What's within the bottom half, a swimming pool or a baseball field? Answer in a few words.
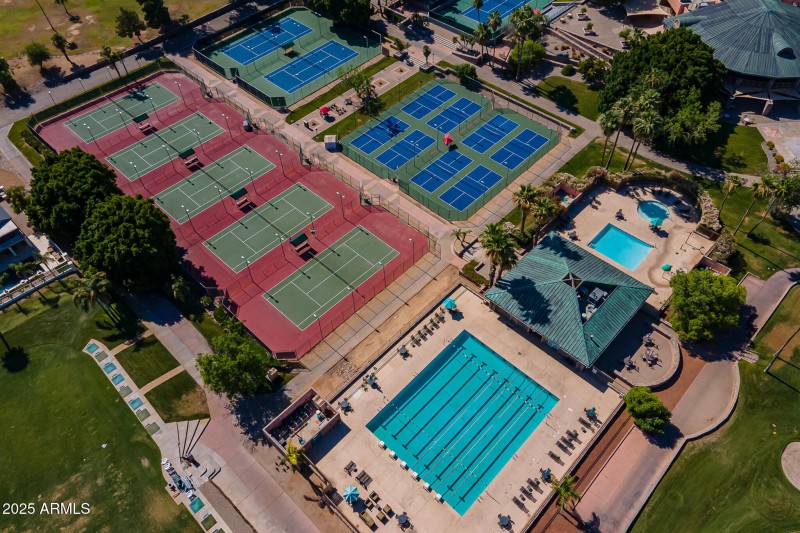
swimming pool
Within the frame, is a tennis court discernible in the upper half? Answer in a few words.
Yes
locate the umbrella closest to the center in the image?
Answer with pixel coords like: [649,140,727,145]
[442,295,458,309]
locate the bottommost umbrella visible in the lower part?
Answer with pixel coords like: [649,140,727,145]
[341,483,360,502]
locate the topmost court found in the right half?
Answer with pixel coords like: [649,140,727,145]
[432,0,559,44]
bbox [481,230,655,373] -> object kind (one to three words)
building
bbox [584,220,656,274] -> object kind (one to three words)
swimming pool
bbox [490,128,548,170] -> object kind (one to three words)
sports court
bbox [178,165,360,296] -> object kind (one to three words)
tennis court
